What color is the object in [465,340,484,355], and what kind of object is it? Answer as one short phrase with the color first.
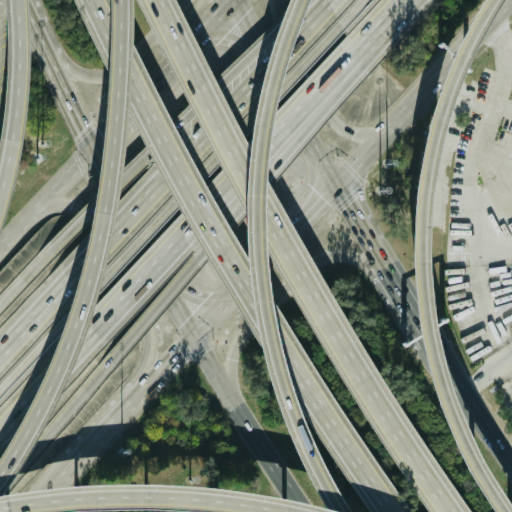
white vehicle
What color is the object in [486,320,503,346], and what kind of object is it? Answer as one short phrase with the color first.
white vehicle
